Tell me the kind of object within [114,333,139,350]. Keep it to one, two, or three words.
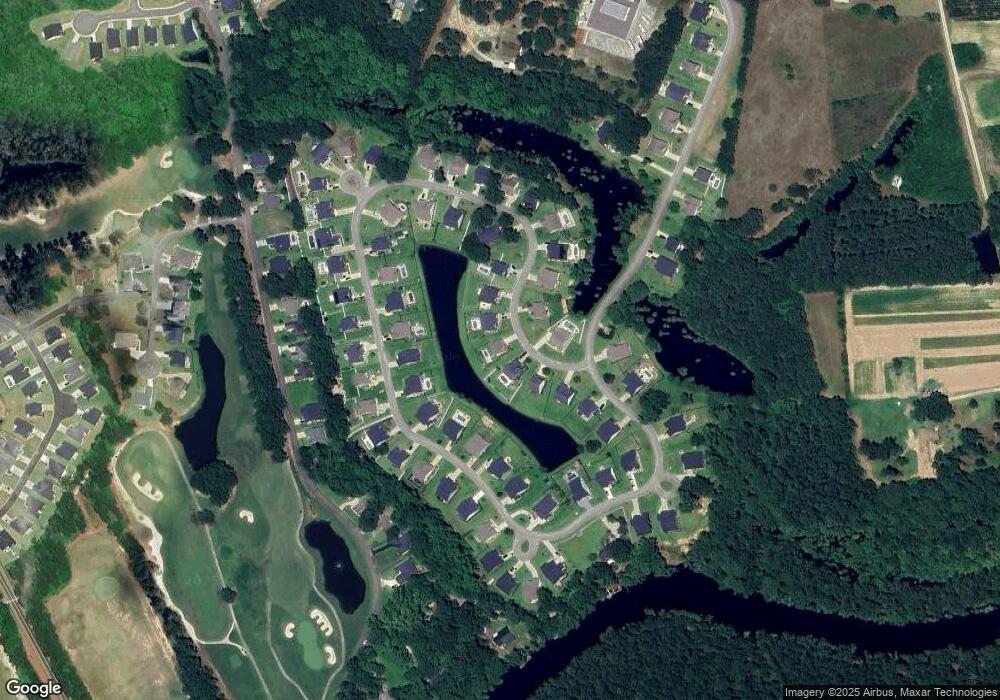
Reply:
house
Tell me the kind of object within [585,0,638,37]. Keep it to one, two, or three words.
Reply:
building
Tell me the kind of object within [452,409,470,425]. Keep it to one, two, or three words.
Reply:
swimming pool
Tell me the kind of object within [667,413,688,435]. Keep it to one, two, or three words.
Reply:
house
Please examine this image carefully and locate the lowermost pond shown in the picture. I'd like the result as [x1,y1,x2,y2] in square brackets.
[304,518,365,614]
